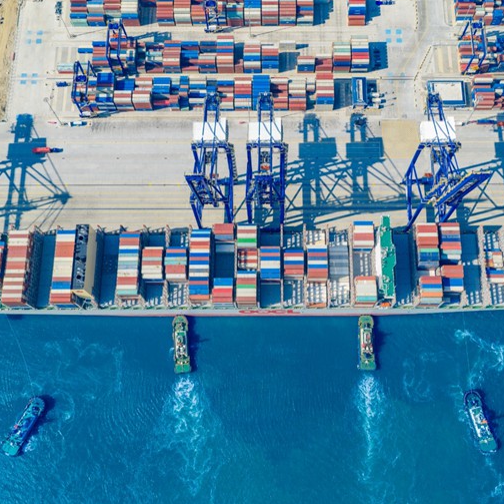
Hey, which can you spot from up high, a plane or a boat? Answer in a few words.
boat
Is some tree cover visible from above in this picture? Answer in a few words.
No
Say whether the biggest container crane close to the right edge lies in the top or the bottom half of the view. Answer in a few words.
top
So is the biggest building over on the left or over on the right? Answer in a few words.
right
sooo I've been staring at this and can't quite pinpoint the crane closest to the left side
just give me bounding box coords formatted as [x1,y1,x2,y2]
[69,61,96,116]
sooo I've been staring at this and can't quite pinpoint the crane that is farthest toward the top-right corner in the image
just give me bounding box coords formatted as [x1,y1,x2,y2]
[460,20,491,74]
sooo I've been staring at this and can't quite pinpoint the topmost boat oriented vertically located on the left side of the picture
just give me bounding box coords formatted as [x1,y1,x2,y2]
[172,316,192,374]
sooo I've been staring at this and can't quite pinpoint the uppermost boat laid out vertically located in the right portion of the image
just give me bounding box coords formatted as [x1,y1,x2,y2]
[356,315,377,374]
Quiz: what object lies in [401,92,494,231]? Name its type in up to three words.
container crane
